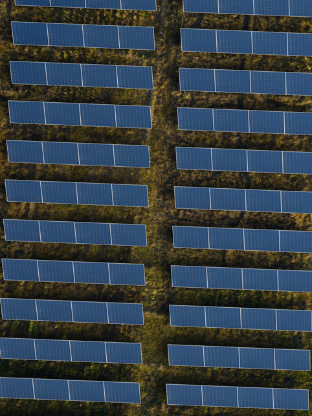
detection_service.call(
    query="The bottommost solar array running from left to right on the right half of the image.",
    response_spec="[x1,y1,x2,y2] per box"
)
[166,384,308,411]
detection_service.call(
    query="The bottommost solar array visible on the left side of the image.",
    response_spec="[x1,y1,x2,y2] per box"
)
[0,378,140,404]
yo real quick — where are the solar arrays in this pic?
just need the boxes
[3,219,147,247]
[5,180,148,208]
[176,147,312,175]
[181,28,312,57]
[8,101,152,129]
[171,266,312,293]
[7,140,150,169]
[0,299,144,326]
[14,0,156,11]
[172,226,312,254]
[0,378,140,404]
[0,338,141,365]
[168,344,310,372]
[169,305,312,333]
[183,0,312,17]
[166,384,308,411]
[10,61,153,90]
[177,107,312,136]
[179,68,312,96]
[11,22,155,51]
[174,187,312,214]
[1,259,145,287]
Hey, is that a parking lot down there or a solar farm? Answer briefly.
solar farm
